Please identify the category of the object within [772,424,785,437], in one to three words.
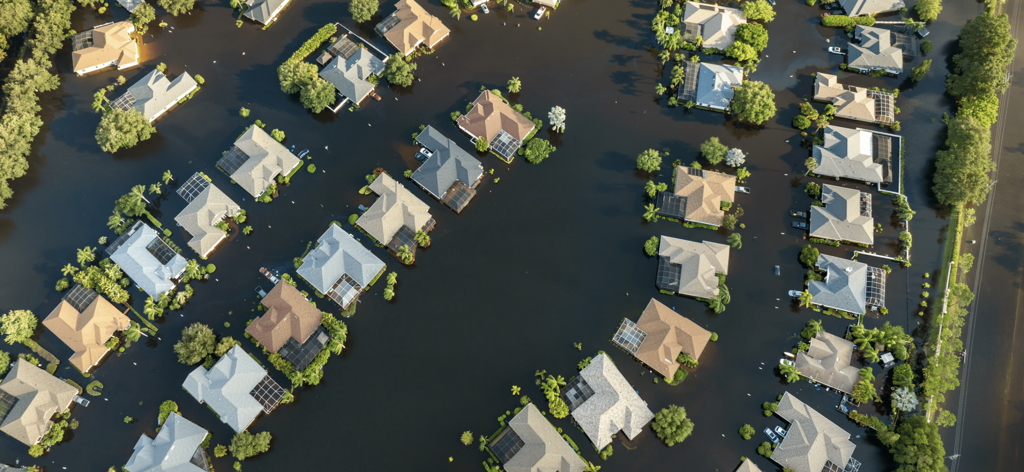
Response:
vehicle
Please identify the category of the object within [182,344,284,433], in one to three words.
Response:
house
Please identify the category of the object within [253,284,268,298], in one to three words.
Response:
vehicle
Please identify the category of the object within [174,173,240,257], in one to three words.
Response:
house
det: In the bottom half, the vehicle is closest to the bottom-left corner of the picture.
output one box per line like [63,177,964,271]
[74,396,91,409]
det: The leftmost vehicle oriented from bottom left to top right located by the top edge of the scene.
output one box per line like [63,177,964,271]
[533,5,547,20]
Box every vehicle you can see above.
[735,185,753,194]
[253,284,268,298]
[533,5,547,20]
[297,147,310,159]
[790,221,809,230]
[772,424,785,437]
[787,290,804,297]
[413,152,429,164]
[827,47,847,57]
[420,147,434,159]
[763,428,780,445]
[788,210,808,219]
[270,274,280,284]
[370,92,382,102]
[481,4,489,15]
[357,203,369,214]
[257,265,273,281]
[74,396,91,409]
[818,11,832,18]
[779,359,796,365]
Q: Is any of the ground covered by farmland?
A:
No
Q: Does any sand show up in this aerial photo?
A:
No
